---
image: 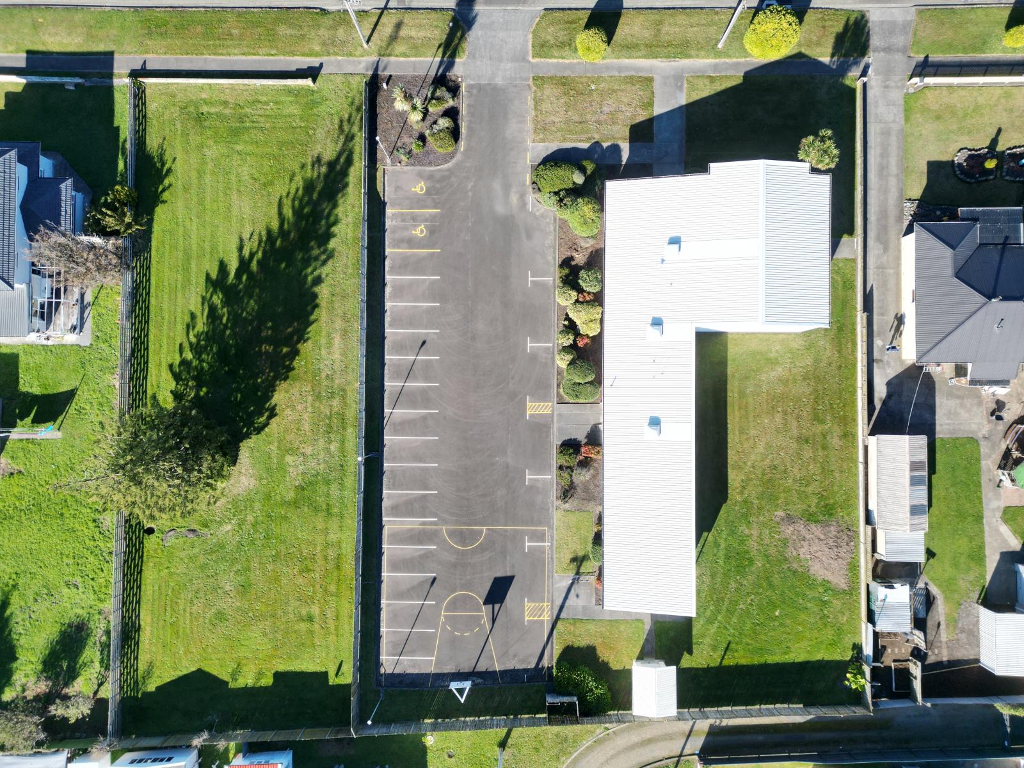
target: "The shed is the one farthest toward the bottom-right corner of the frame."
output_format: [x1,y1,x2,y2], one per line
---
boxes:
[964,601,1024,672]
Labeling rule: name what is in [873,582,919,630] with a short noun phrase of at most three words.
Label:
shed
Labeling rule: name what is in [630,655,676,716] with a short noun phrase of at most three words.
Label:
shed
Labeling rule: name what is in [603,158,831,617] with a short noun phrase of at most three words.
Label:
building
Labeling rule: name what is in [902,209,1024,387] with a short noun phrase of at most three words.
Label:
house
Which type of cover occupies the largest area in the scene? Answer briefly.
grass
